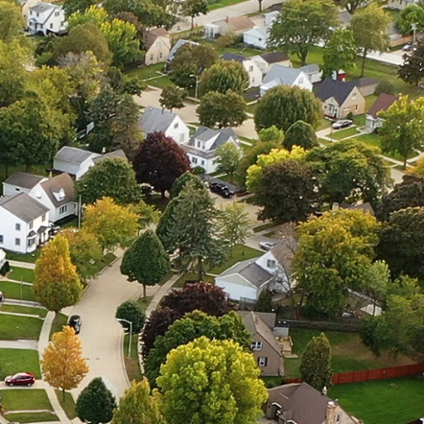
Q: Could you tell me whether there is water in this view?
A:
No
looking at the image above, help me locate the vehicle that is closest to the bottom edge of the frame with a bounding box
[5,367,38,384]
